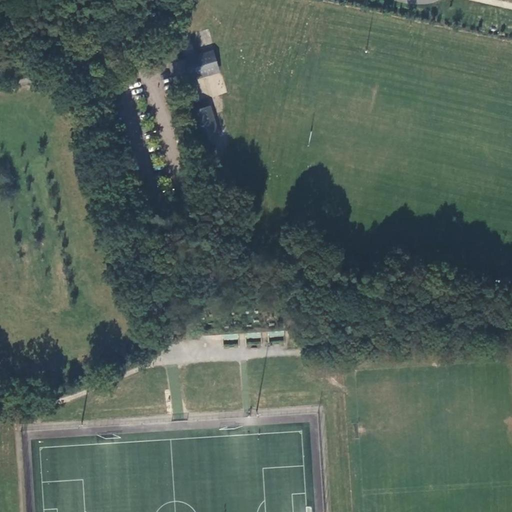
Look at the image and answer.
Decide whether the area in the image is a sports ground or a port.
sports ground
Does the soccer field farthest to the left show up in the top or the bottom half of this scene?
bottom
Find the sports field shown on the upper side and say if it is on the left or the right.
right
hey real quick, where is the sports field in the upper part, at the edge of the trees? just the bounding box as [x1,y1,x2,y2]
[196,0,512,287]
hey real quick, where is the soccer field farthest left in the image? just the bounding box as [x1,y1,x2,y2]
[31,423,316,512]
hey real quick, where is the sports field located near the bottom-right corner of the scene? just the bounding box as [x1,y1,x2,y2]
[357,362,512,512]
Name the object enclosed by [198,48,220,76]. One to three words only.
building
